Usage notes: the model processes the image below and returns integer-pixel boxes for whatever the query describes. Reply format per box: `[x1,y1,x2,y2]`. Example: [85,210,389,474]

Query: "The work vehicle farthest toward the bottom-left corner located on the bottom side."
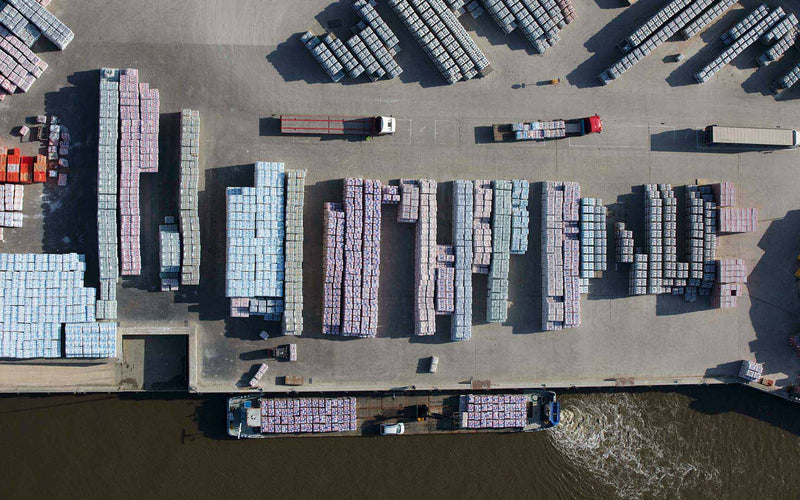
[265,345,290,359]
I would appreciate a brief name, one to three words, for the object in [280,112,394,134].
truck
